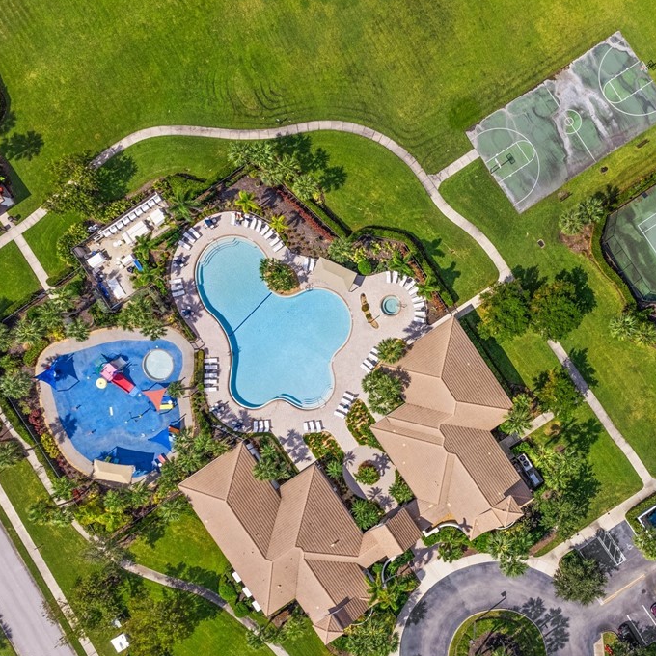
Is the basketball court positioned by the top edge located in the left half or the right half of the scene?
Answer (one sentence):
It is on the right.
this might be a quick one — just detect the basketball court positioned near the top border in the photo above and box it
[467,31,656,213]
